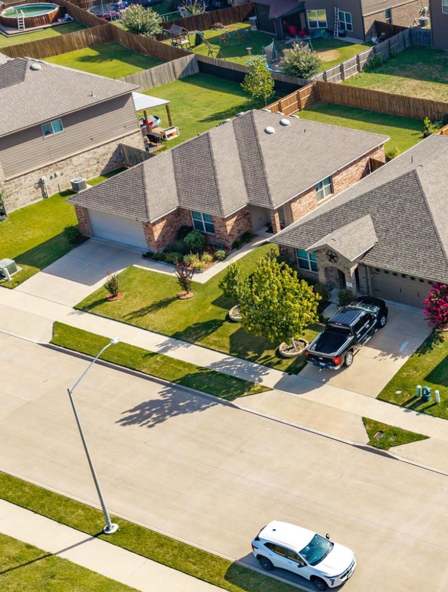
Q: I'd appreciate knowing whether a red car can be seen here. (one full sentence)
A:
No, the frame has no red car in it.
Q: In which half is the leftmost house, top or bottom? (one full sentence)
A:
The leftmost house is in the top half of the image.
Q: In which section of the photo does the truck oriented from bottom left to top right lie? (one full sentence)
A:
The truck oriented from bottom left to top right appears toward the right of the photo.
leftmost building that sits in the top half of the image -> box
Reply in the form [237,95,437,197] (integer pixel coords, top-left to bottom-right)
[0,44,145,213]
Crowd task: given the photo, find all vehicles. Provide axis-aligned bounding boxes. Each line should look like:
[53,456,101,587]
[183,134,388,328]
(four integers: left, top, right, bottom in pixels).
[251,520,355,591]
[304,297,394,369]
